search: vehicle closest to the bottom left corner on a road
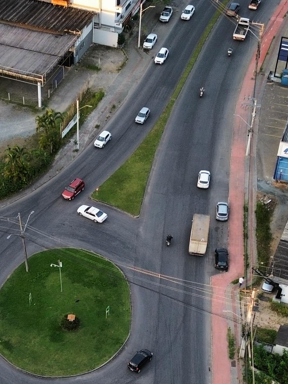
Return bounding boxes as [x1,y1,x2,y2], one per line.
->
[126,350,154,375]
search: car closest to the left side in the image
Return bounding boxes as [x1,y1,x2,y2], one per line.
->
[62,178,85,201]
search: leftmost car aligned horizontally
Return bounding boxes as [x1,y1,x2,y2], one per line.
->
[76,207,108,224]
